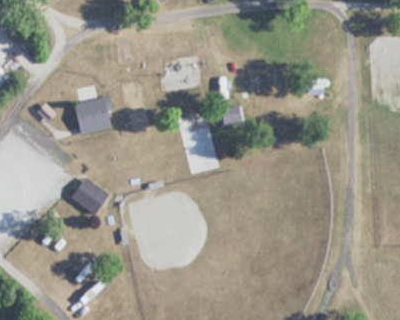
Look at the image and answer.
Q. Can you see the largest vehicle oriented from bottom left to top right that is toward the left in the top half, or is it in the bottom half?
bottom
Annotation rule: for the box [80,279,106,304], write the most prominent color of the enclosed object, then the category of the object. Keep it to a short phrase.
white vehicle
